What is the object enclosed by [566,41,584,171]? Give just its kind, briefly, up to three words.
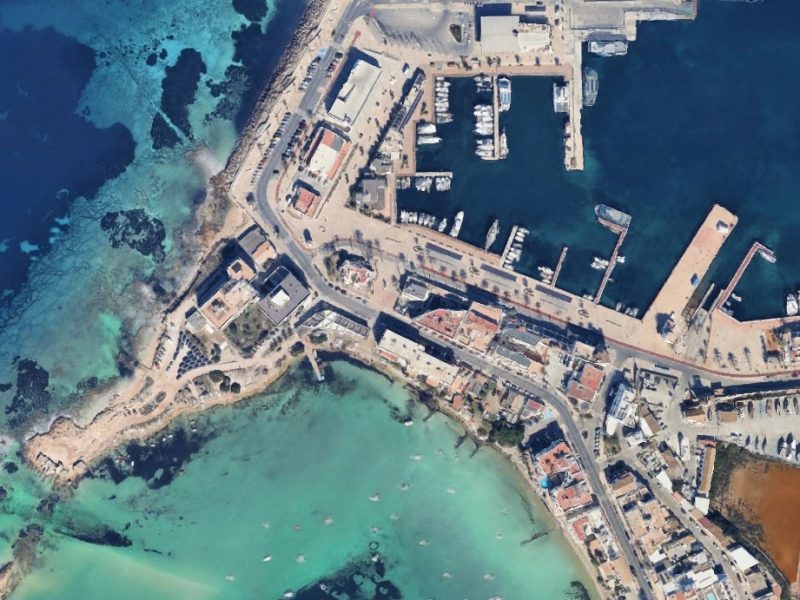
pier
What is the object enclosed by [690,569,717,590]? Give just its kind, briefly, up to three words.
house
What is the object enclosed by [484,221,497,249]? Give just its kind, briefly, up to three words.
boat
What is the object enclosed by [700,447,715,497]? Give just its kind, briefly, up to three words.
shed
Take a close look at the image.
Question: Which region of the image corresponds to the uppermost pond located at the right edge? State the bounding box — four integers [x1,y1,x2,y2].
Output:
[721,457,800,587]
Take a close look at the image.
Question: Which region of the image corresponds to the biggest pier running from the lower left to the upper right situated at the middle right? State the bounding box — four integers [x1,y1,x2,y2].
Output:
[641,204,737,335]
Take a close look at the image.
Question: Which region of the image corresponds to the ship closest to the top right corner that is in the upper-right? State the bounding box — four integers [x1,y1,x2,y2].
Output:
[588,41,627,54]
